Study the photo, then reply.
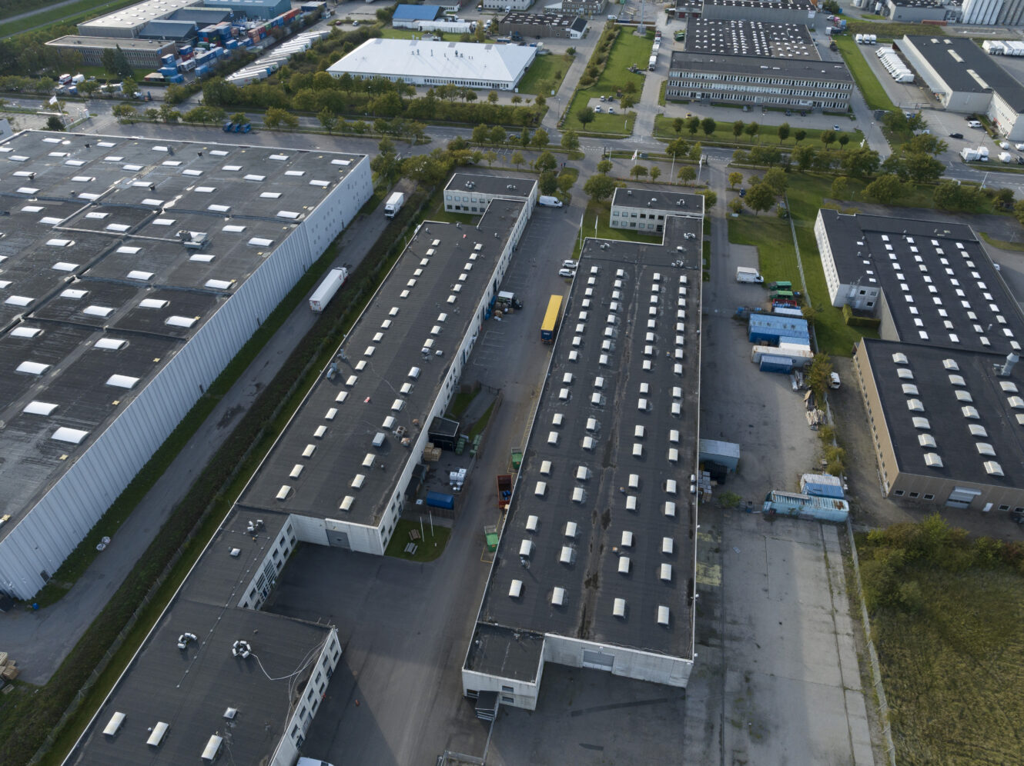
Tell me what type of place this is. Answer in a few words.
industrial area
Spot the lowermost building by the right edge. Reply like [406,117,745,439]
[848,337,1024,515]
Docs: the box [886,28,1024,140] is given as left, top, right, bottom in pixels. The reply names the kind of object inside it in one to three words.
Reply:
warehouse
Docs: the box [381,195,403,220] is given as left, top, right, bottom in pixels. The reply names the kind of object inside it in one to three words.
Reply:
truck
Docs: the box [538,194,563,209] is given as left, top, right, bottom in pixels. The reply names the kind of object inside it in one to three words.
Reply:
vehicle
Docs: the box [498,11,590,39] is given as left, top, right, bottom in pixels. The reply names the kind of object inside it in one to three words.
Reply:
building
